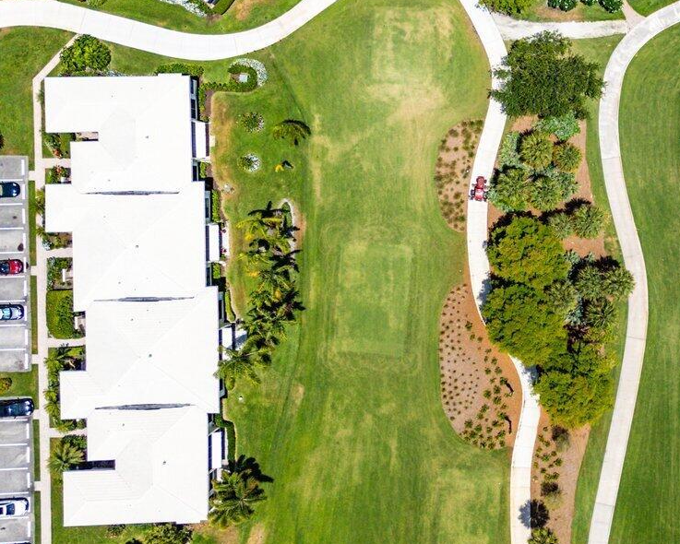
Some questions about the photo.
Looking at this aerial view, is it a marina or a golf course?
golf course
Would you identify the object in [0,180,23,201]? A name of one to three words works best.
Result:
car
